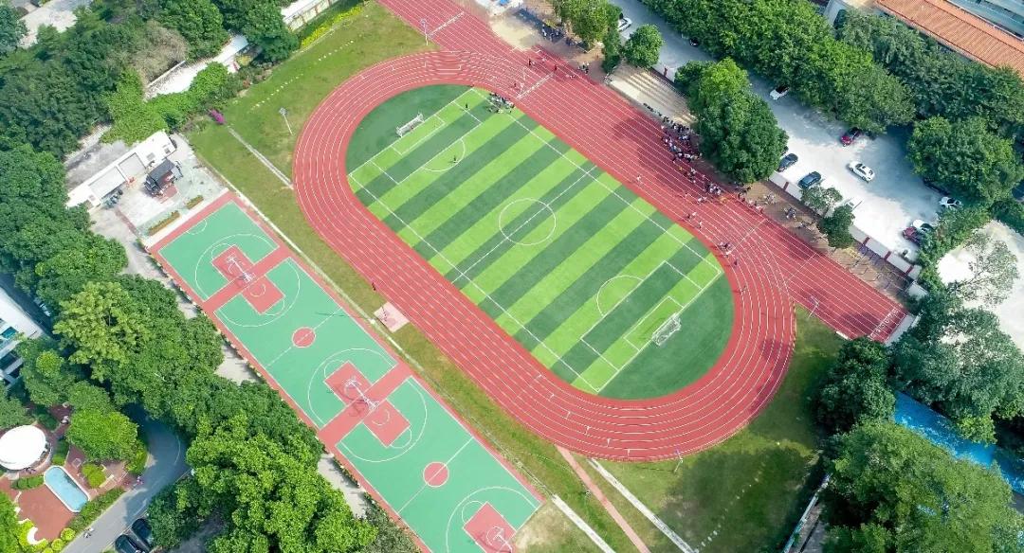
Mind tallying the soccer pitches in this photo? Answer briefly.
1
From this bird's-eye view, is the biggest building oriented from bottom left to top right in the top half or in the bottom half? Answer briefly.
top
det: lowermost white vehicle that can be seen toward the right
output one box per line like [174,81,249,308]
[894,247,923,266]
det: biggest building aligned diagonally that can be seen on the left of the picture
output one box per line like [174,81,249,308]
[68,129,185,223]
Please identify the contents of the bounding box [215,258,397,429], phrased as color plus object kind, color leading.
green basketball court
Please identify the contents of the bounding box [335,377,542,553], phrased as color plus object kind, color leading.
green basketball court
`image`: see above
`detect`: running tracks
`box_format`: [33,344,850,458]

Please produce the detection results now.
[289,0,907,465]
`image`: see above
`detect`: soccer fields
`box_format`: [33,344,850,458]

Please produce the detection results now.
[346,84,732,399]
